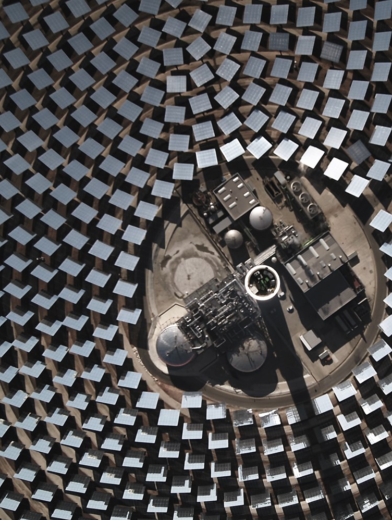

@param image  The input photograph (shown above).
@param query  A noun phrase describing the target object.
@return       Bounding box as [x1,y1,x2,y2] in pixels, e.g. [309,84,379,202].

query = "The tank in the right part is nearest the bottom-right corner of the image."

[227,331,267,373]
